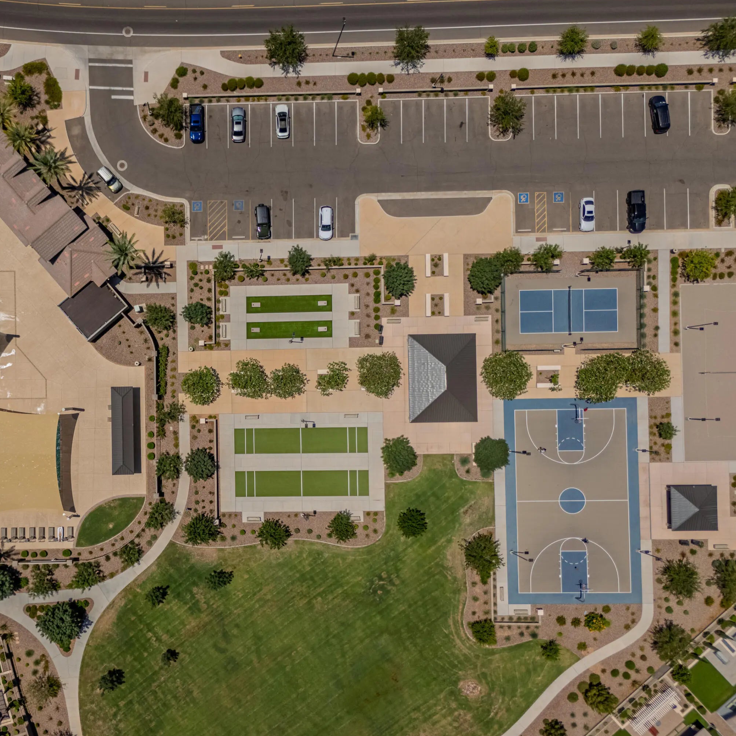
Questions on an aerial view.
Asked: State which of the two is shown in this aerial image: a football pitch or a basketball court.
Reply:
basketball court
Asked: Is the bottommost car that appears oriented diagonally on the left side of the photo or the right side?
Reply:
left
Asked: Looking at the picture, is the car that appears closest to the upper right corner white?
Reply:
No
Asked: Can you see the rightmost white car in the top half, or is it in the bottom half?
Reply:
top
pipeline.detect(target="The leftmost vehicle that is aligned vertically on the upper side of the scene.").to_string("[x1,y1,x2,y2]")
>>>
[188,103,206,145]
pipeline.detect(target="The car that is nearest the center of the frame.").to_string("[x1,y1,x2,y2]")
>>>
[317,206,334,242]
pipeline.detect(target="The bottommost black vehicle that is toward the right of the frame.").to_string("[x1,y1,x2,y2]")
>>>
[624,189,649,234]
